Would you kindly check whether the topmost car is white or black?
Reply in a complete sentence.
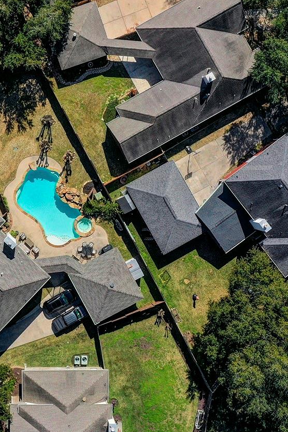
In this view, the topmost car is black.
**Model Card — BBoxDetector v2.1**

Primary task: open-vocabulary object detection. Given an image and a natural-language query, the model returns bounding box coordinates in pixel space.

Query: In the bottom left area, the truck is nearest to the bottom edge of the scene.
[50,305,90,335]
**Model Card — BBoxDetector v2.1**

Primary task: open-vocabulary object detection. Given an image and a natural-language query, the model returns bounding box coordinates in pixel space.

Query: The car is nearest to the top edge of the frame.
[41,288,78,314]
